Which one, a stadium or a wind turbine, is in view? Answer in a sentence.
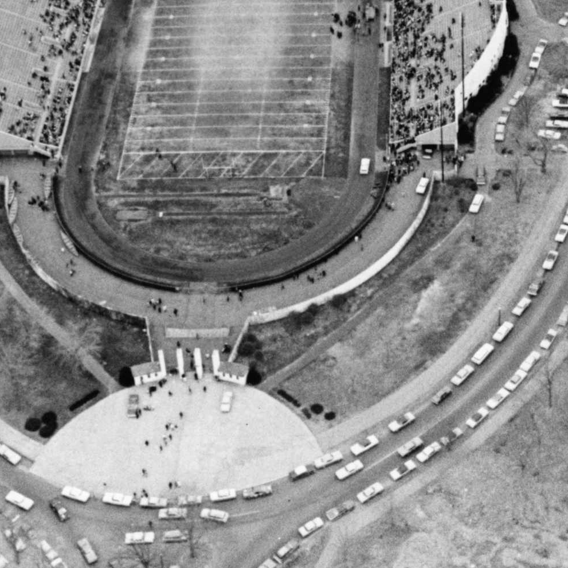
This aerial view contains a stadium.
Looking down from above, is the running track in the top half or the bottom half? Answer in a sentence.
You can find the running track in the top half.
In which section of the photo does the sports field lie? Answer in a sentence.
The sports field is located in the top region of the scene.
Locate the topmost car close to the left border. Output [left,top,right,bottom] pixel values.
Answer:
[0,446,21,465]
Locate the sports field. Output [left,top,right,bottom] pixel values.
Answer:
[117,0,339,180]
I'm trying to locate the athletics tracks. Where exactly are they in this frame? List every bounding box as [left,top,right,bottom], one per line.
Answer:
[64,0,385,286]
